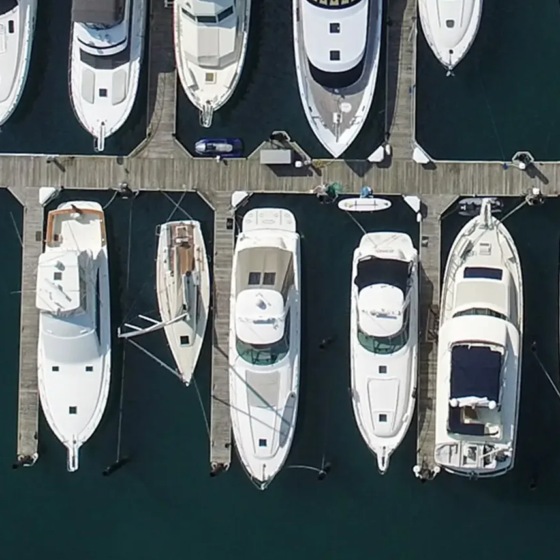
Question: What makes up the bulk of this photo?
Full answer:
The bulk of the photo consists of water.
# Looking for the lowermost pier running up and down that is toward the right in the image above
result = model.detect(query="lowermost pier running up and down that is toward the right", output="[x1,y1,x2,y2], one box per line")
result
[405,195,459,478]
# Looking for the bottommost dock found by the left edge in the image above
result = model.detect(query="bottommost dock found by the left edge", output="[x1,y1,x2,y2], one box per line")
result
[7,189,62,466]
